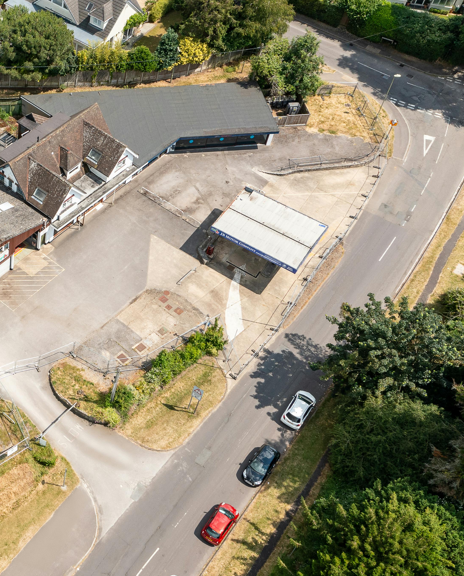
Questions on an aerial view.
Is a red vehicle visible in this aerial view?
Yes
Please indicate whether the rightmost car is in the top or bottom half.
bottom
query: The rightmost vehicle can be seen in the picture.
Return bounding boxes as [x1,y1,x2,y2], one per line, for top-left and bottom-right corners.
[281,390,315,432]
